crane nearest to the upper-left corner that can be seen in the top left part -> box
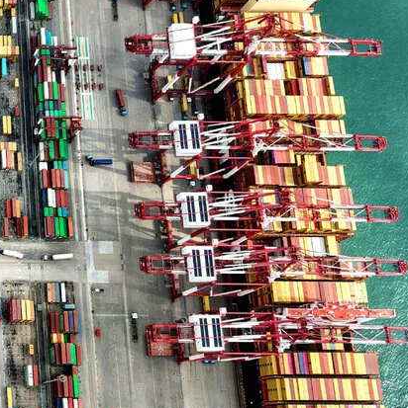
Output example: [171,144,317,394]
[27,45,81,77]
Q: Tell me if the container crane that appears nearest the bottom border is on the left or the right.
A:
right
